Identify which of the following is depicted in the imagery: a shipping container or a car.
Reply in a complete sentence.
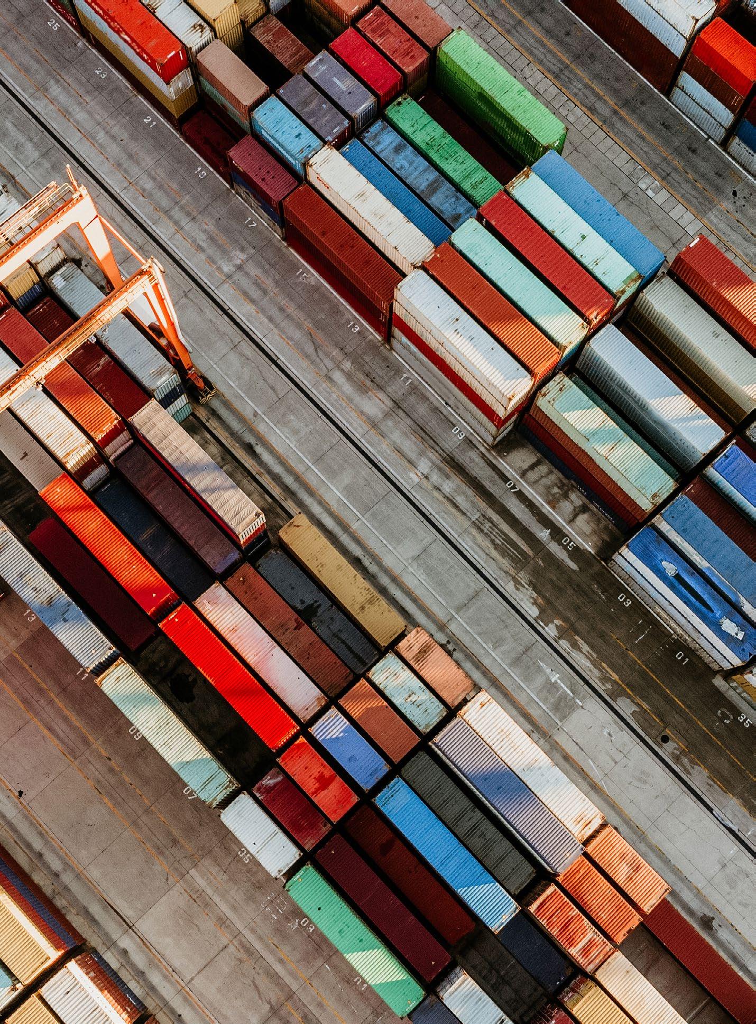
The one in the frame is a shipping container.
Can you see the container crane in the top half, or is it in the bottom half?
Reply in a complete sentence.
Seen from above, the container crane lies in the top half of the view.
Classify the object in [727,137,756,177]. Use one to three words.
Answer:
shipping container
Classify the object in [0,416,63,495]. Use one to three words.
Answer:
shipping container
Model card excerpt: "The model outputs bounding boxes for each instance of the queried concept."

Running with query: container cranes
[0,143,222,423]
